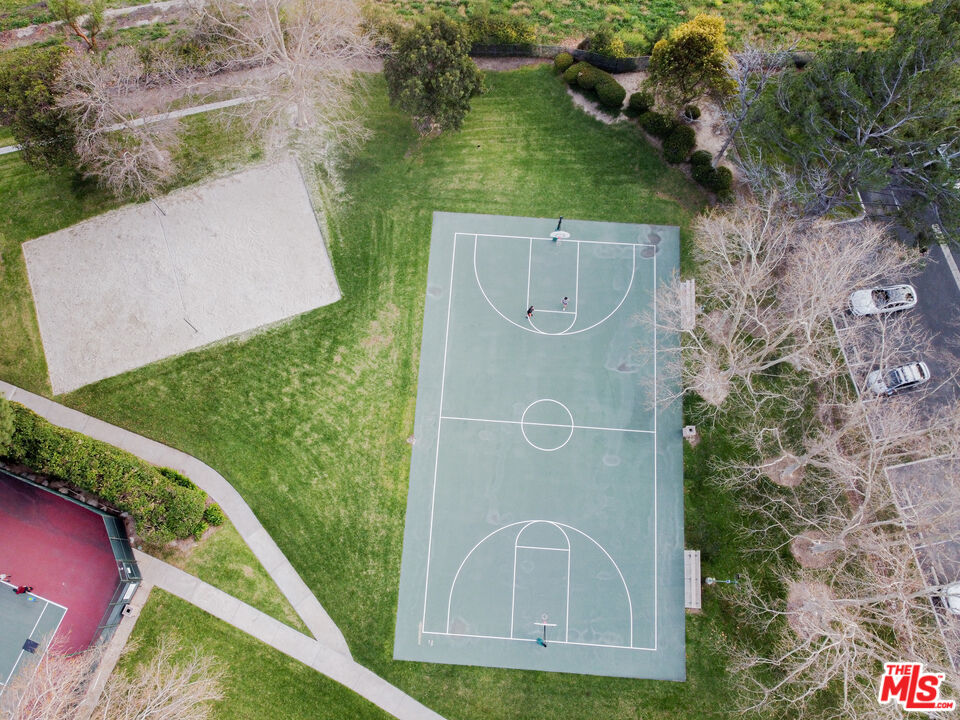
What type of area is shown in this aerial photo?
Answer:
sports ground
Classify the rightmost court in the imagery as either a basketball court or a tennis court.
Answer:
basketball court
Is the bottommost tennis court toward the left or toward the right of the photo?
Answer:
left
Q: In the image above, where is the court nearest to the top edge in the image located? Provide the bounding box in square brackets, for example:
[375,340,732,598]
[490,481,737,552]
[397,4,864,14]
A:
[22,160,341,394]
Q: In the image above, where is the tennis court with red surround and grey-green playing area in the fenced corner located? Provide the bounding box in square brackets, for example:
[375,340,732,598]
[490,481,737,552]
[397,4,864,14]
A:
[0,461,130,720]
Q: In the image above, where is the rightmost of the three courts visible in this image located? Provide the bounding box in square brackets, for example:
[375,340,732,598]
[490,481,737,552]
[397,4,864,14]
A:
[393,211,685,681]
